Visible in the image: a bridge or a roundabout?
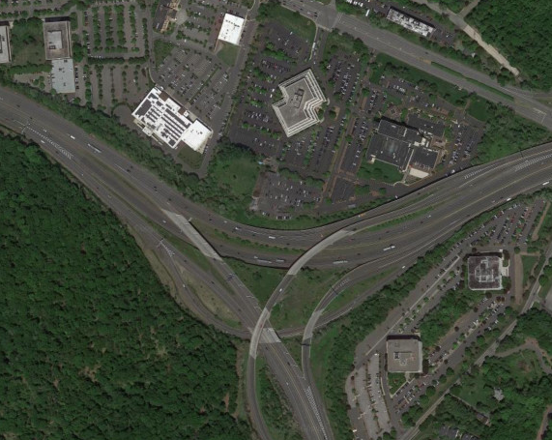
bridge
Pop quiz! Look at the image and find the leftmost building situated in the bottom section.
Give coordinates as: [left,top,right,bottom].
[387,339,421,372]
